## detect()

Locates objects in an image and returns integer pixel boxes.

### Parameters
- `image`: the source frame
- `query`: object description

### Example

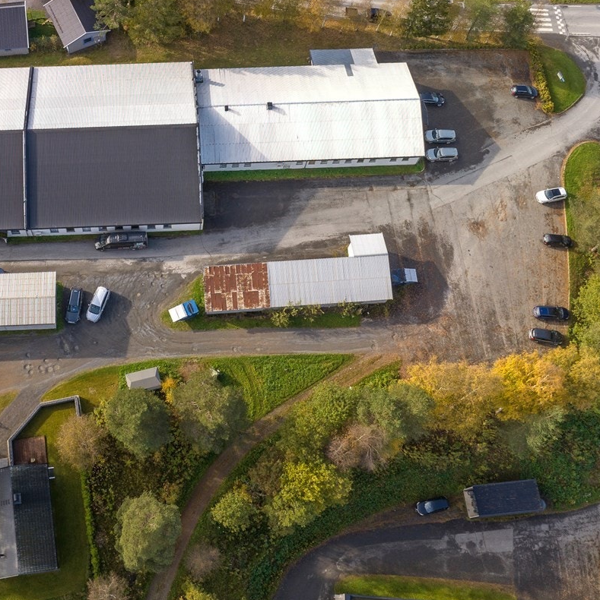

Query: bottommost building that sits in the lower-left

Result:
[0,465,58,580]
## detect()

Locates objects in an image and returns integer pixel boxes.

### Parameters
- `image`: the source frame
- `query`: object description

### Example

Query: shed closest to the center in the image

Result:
[203,232,393,316]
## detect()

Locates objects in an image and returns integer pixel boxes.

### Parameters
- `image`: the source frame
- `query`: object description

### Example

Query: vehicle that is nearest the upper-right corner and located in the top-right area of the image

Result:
[509,86,538,100]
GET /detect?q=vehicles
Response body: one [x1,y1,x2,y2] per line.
[419,93,448,109]
[532,187,569,206]
[87,286,109,323]
[509,86,538,100]
[531,305,569,322]
[411,494,454,517]
[365,7,394,24]
[424,147,459,164]
[390,269,421,288]
[526,328,564,347]
[95,230,146,253]
[539,233,573,251]
[64,288,82,323]
[168,301,200,323]
[423,130,457,145]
